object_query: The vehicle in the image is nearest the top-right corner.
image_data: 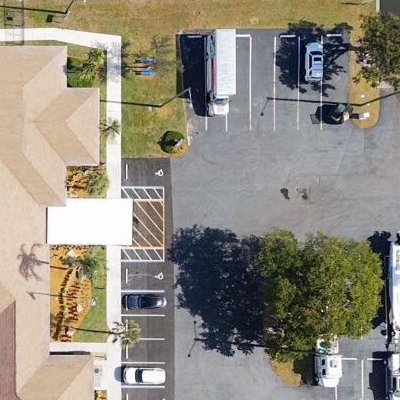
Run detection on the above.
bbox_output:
[303,42,327,82]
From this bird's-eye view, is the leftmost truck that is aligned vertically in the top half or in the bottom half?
top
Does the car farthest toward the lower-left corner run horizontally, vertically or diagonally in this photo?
horizontally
